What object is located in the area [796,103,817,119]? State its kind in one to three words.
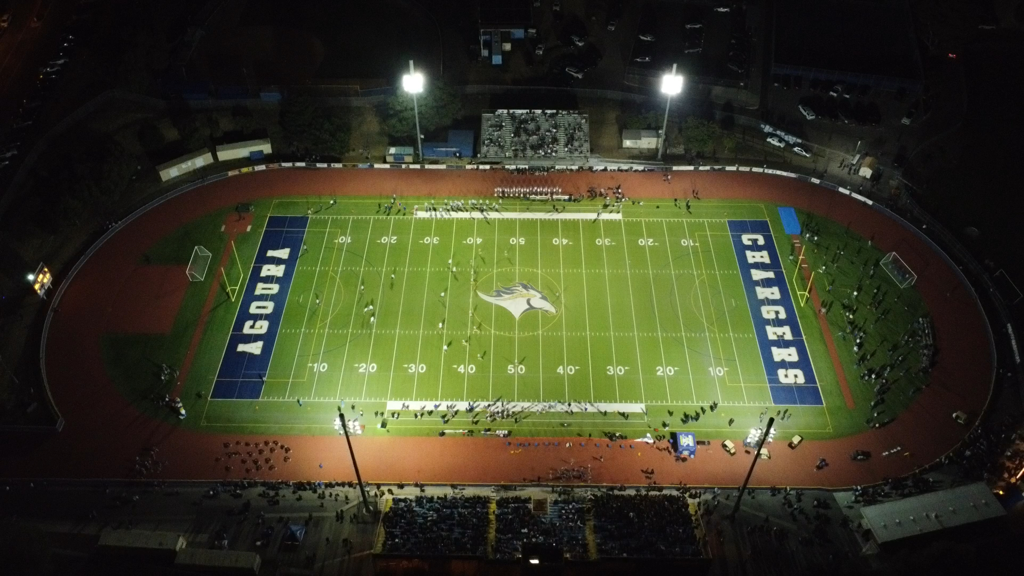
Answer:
car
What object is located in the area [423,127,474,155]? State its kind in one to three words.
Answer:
building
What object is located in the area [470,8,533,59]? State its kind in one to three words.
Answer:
building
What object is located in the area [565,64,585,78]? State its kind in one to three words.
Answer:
car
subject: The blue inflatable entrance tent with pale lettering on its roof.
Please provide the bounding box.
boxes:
[674,430,700,458]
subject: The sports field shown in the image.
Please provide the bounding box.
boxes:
[183,195,850,440]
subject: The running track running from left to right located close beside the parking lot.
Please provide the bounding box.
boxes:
[0,167,993,490]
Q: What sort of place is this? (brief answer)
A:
sports ground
